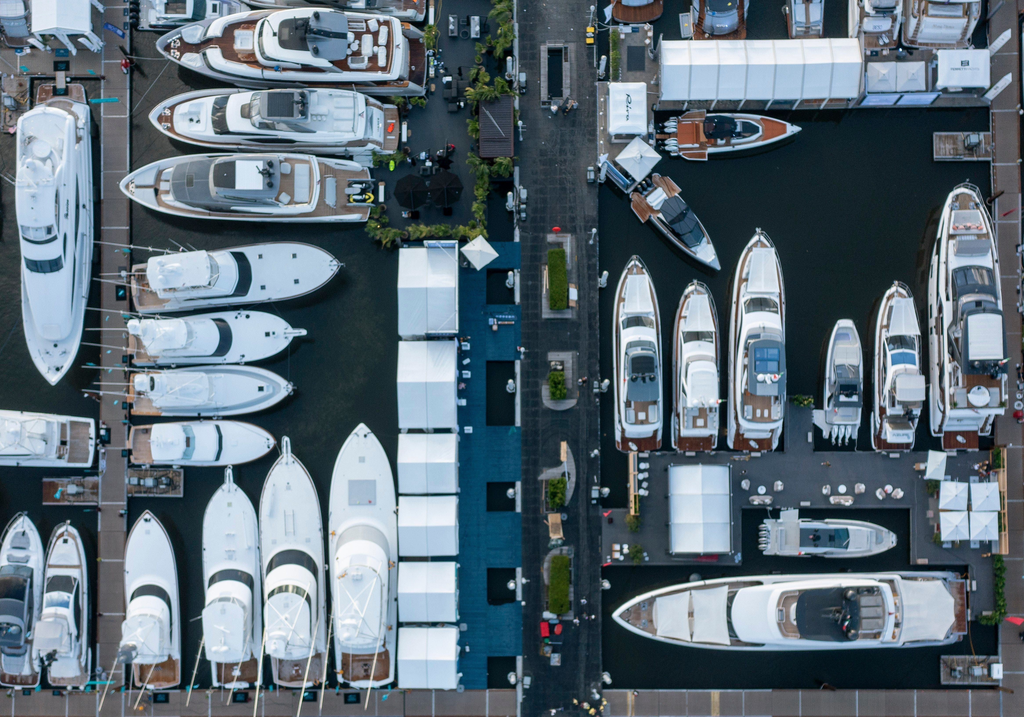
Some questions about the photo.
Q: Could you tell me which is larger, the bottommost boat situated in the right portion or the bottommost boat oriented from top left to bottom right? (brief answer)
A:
the bottommost boat situated in the right portion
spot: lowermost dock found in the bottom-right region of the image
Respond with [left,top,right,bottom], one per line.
[603,689,999,716]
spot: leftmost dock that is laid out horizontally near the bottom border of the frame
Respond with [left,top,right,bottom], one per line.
[0,689,519,716]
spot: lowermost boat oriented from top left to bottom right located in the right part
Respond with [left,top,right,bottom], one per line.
[630,174,721,271]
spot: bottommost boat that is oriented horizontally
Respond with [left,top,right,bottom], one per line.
[613,572,968,650]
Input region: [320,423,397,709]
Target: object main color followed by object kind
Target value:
white boat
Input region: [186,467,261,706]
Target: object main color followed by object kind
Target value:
white boat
